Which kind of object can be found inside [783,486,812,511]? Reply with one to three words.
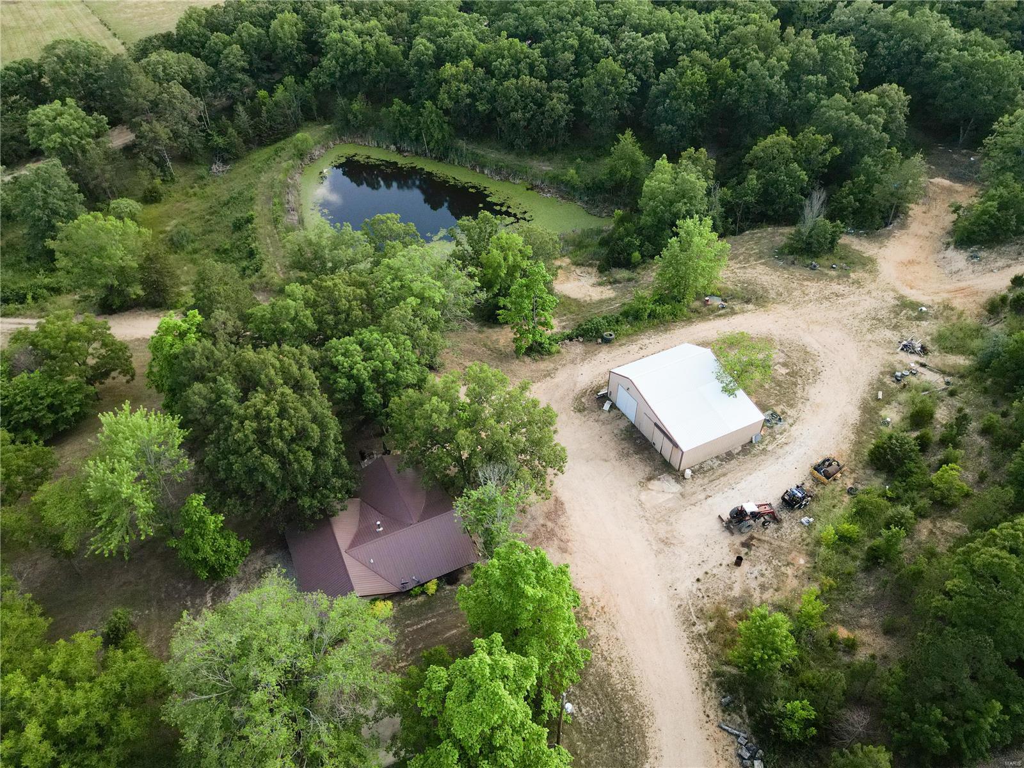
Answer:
work vehicle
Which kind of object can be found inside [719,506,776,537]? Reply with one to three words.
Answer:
work vehicle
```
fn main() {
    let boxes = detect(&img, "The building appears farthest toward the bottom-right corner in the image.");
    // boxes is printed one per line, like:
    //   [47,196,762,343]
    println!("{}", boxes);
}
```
[607,343,767,474]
